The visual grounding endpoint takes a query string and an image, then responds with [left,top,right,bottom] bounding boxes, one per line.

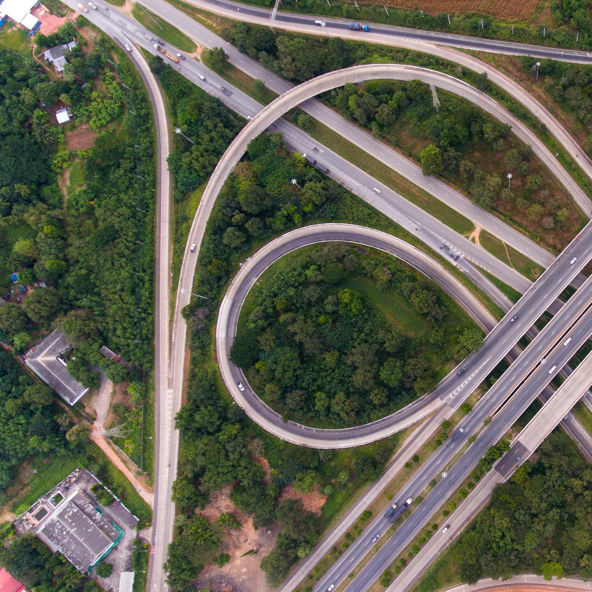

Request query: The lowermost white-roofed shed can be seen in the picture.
[118,571,139,592]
